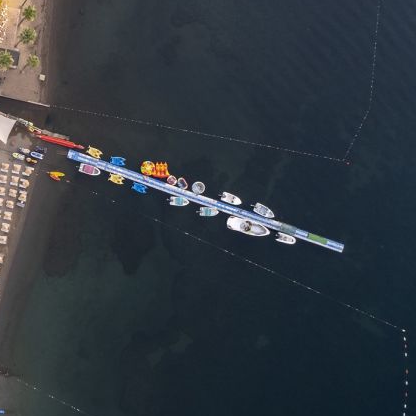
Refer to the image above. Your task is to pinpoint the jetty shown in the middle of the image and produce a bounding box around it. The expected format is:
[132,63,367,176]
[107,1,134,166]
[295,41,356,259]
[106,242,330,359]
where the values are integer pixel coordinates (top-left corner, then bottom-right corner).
[66,151,344,249]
